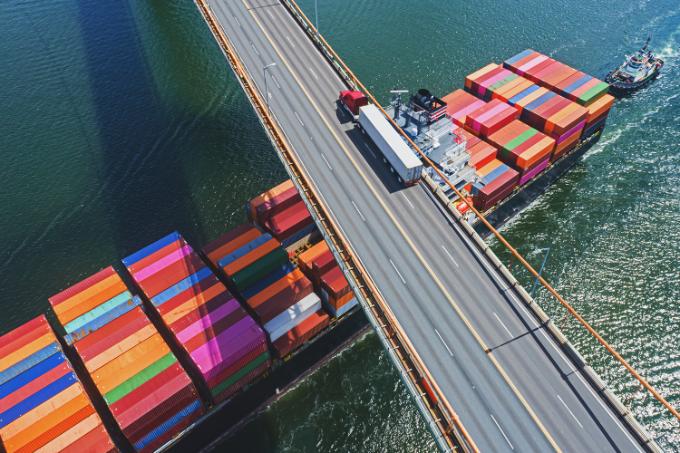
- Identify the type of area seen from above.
port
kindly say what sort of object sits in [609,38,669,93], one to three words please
boat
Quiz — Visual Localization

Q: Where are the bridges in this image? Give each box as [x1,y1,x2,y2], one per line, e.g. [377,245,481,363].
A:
[197,0,680,453]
